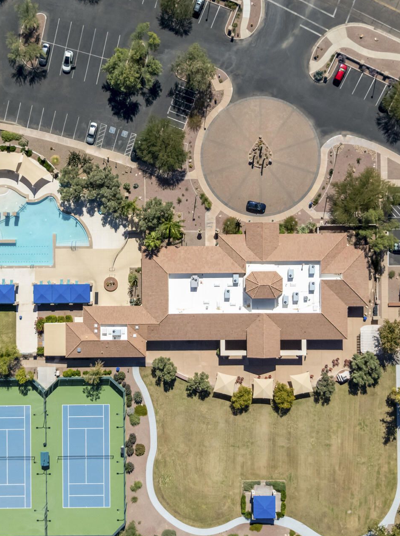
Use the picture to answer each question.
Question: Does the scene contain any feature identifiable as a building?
Yes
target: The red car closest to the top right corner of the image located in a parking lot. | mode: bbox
[333,63,347,85]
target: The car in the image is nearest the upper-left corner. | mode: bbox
[38,44,51,66]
